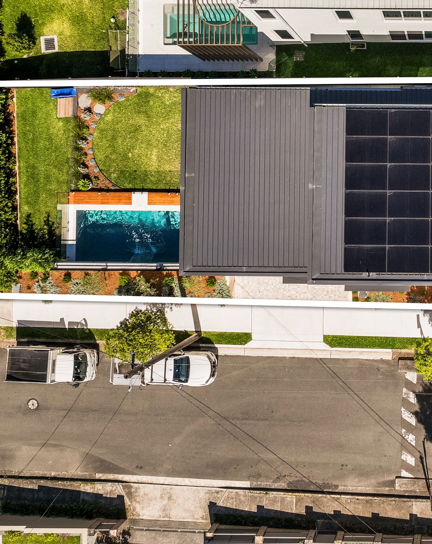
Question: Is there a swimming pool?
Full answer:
Yes, the image includes a swimming pool.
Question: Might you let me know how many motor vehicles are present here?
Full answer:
The picture shows 2 motor vehicles.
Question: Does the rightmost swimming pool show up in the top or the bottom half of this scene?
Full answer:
The top half of the photo is where the rightmost swimming pool is.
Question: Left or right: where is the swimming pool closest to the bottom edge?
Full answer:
The swimming pool closest to the bottom edge sits on the left side.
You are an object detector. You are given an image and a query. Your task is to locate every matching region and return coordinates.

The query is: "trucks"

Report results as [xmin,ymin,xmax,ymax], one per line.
[111,346,220,391]
[9,339,101,386]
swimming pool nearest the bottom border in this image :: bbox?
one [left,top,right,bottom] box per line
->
[77,211,180,263]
